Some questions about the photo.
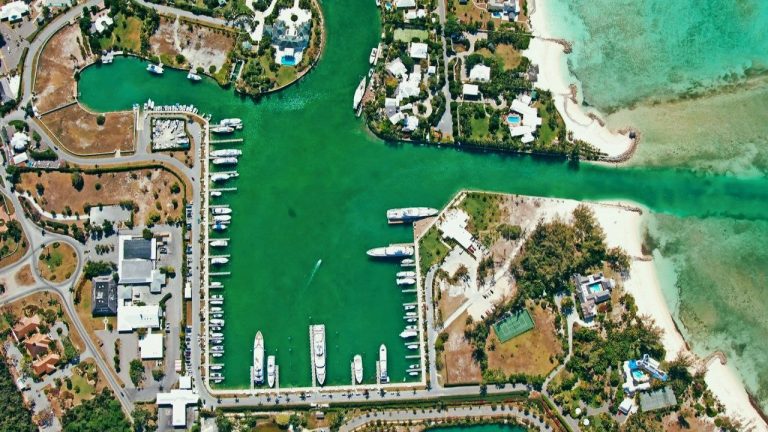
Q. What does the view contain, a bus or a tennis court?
tennis court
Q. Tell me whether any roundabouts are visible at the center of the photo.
No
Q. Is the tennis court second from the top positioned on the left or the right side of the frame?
right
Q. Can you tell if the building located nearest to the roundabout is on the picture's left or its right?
left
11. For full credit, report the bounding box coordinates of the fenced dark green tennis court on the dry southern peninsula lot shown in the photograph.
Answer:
[494,309,535,344]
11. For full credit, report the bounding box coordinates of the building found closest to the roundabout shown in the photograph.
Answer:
[91,278,116,316]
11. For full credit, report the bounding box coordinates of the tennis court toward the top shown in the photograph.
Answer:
[394,28,428,42]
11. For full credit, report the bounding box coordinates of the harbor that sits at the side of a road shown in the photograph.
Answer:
[132,110,426,394]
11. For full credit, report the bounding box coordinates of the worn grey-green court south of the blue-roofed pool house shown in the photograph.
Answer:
[641,387,676,411]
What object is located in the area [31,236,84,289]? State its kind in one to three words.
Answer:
roundabout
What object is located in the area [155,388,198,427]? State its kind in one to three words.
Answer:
building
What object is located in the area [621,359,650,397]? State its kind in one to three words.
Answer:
house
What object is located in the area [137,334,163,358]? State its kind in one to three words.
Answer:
building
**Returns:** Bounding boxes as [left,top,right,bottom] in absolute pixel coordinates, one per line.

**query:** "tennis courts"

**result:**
[494,309,535,344]
[641,387,676,411]
[394,28,428,42]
